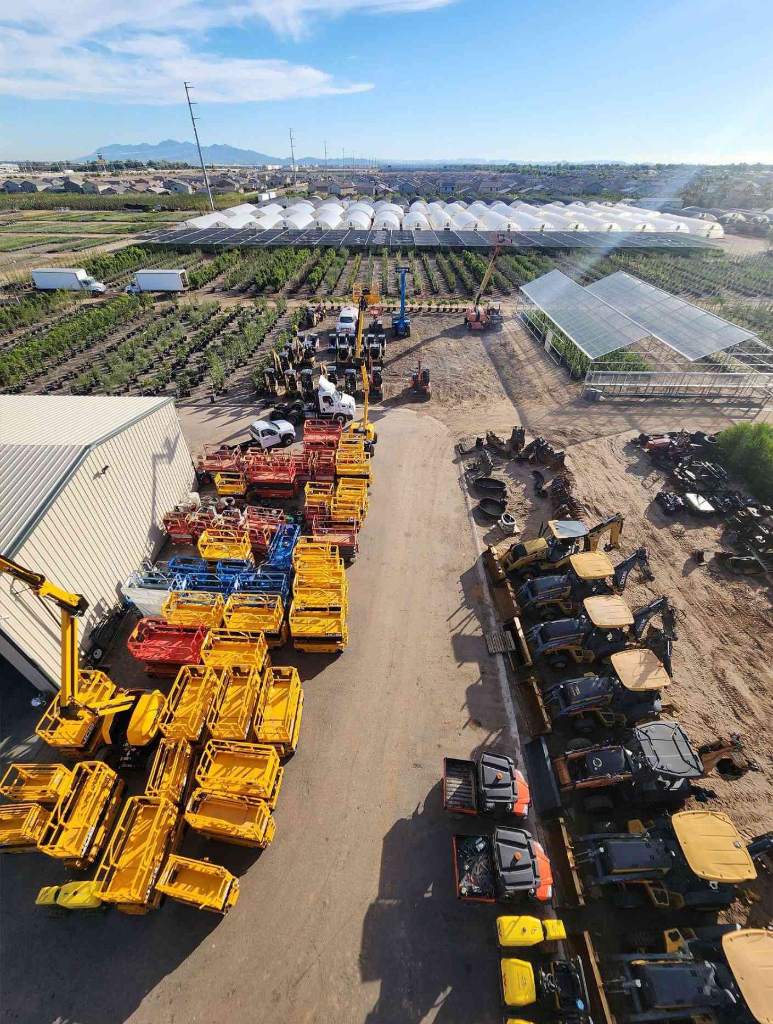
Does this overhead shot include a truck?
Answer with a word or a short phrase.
Yes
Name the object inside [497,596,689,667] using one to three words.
work vehicle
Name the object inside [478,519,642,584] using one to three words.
work vehicle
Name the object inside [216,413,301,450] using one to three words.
truck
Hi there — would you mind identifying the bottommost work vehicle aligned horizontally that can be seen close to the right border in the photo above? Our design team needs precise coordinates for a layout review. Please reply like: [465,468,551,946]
[553,922,773,1024]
